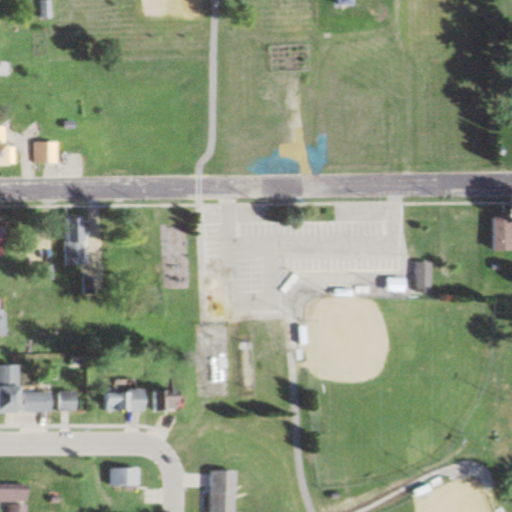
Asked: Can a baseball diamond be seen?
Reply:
Yes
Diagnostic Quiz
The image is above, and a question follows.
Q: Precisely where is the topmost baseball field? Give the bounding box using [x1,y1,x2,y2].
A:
[302,296,496,486]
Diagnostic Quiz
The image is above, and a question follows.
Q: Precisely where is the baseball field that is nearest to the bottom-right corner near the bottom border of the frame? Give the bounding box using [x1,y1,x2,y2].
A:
[412,479,494,512]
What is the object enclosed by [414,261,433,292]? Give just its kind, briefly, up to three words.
building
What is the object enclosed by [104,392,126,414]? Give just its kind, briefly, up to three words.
house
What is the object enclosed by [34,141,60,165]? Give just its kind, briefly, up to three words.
house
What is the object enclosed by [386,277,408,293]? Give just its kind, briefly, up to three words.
building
